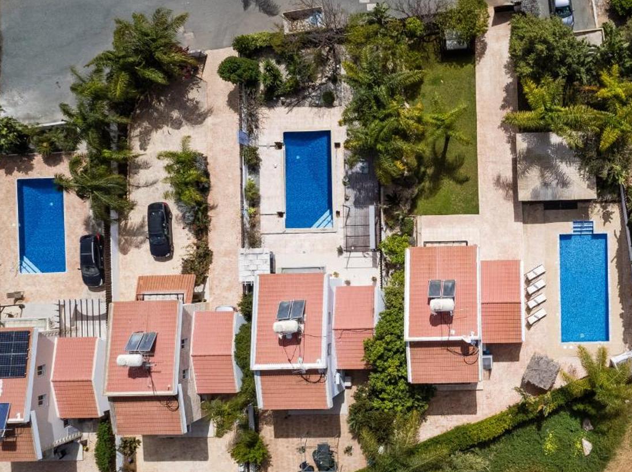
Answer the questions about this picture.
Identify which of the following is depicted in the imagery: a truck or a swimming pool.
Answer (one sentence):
There is a swimming pool in the scene.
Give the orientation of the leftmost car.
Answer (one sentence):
The leftmost car has been laid out up and down relative to the frame.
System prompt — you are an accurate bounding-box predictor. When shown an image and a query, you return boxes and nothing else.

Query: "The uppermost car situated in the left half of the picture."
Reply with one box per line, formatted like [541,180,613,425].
[144,203,176,257]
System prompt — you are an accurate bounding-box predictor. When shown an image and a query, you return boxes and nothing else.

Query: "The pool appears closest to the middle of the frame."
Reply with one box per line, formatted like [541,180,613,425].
[280,128,335,231]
